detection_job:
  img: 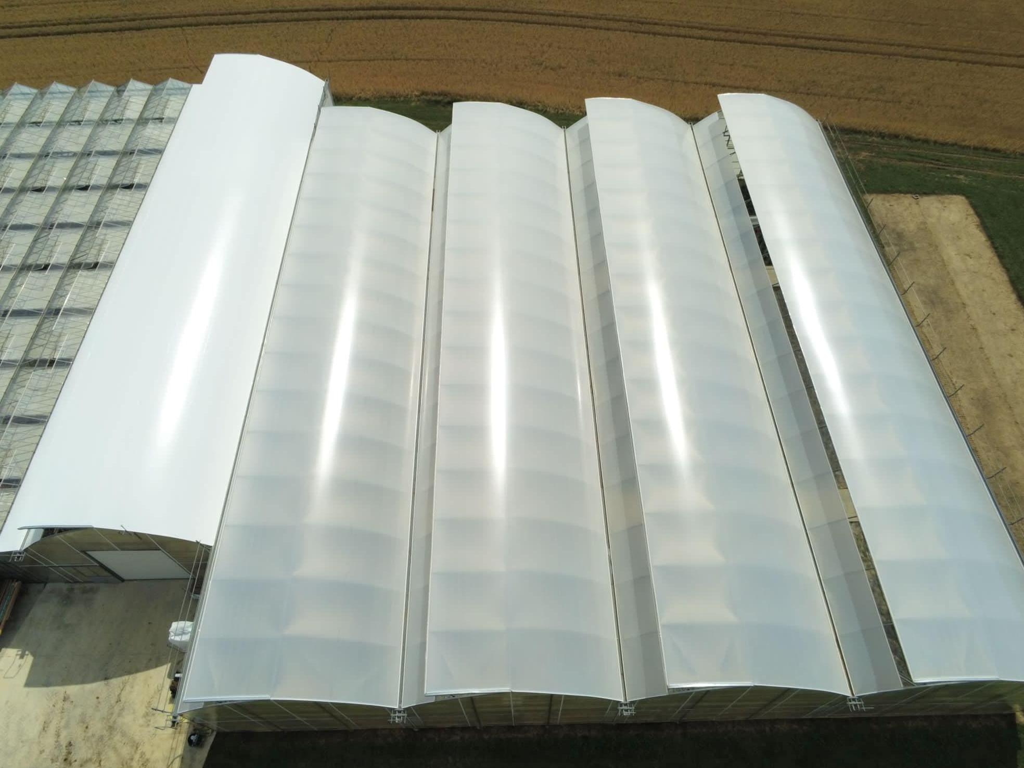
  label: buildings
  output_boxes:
[145,91,1024,739]
[0,78,193,585]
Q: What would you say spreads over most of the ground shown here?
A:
buildings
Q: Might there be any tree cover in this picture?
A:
No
